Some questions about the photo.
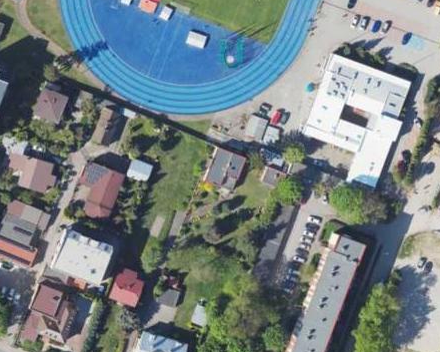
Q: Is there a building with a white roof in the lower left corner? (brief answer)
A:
Yes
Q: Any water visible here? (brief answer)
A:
No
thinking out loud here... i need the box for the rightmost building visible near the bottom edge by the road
[286,236,367,352]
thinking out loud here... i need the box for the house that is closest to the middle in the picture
[203,146,248,190]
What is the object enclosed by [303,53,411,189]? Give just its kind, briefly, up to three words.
building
